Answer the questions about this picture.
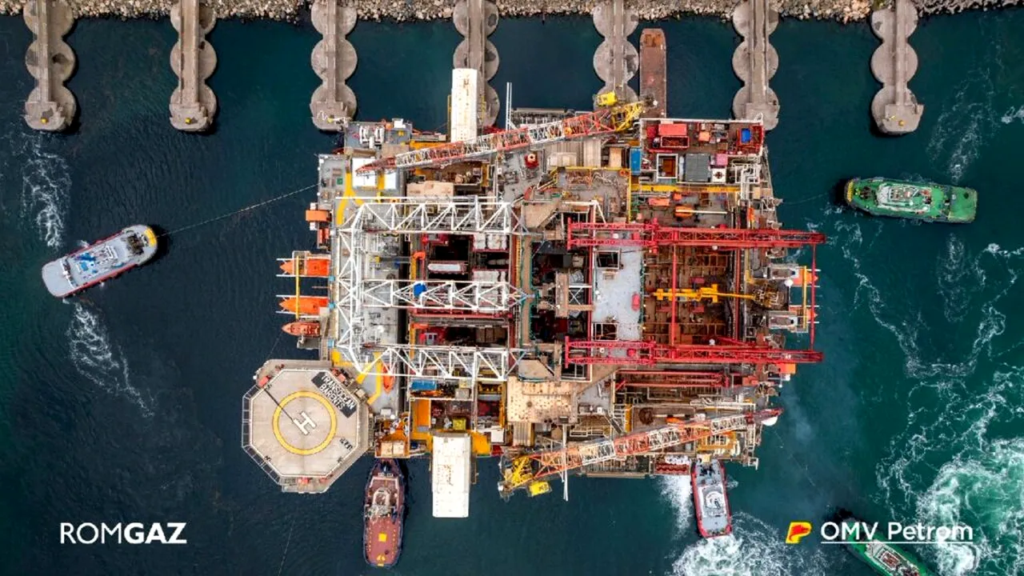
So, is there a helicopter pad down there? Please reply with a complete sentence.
Yes, you can see a helicopter pad in this photo.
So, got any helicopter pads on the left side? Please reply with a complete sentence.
Yes, the scene does show a helicopter pad on the left side.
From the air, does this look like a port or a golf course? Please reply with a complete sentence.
The area seen from above is a port.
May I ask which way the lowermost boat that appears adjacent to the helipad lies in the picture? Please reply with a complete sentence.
The lowermost boat that appears adjacent to the helipad runs from top to bottom in the image.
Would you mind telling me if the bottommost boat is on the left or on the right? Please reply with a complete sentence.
The bottommost boat appears in the right half of the scene.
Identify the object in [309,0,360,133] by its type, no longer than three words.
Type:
pier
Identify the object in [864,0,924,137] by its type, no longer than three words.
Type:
pier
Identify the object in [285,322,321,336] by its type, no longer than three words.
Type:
boat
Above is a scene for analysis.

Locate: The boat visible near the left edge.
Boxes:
[41,227,158,300]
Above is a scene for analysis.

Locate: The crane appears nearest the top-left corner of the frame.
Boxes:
[357,88,650,174]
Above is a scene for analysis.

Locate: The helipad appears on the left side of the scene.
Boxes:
[242,359,372,491]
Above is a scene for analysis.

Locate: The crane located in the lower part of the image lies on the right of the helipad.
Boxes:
[497,407,784,499]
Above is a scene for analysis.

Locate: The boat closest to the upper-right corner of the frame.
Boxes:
[846,175,979,228]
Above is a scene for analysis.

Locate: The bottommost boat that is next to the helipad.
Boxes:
[363,458,408,568]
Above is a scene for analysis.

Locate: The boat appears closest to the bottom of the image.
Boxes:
[843,516,948,576]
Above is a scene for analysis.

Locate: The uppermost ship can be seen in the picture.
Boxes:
[638,28,667,120]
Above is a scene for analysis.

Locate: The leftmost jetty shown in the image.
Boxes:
[24,0,84,133]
